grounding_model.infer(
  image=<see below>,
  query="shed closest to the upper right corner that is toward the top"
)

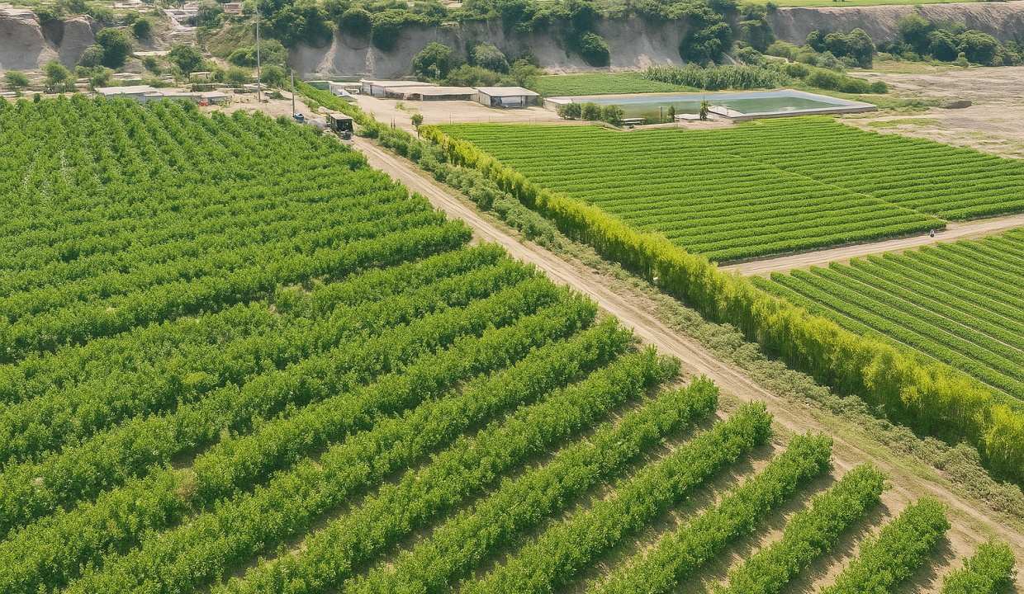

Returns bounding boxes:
[550,95,603,112]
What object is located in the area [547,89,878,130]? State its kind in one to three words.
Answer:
pond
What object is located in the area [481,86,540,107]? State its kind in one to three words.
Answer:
shed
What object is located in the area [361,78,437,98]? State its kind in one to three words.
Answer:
shed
